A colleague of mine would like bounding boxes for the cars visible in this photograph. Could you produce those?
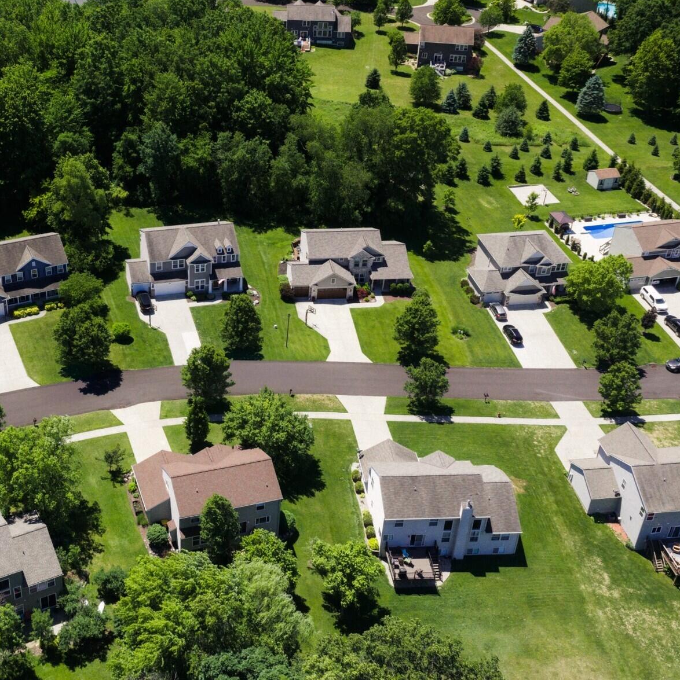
[666,315,680,335]
[136,291,152,310]
[667,357,680,374]
[502,324,527,343]
[643,282,667,306]
[487,301,508,319]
